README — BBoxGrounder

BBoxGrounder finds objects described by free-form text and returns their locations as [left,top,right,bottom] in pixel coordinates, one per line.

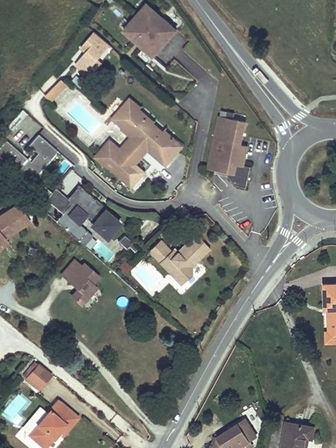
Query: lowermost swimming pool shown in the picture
[2,392,32,426]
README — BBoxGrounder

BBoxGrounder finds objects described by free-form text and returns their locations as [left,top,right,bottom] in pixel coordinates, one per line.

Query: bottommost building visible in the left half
[30,399,80,448]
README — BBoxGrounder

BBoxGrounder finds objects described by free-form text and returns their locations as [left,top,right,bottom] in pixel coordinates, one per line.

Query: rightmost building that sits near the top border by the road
[122,3,178,58]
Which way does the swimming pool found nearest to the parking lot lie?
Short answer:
from left to right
